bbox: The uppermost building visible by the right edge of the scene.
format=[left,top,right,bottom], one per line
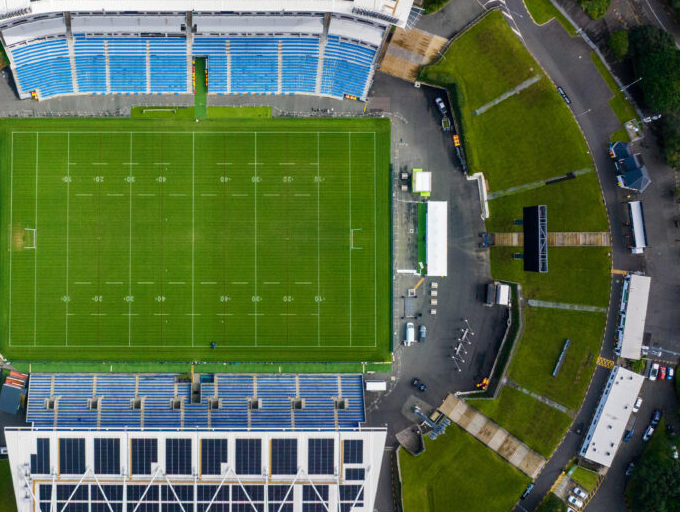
[609,142,651,192]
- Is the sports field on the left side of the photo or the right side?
left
